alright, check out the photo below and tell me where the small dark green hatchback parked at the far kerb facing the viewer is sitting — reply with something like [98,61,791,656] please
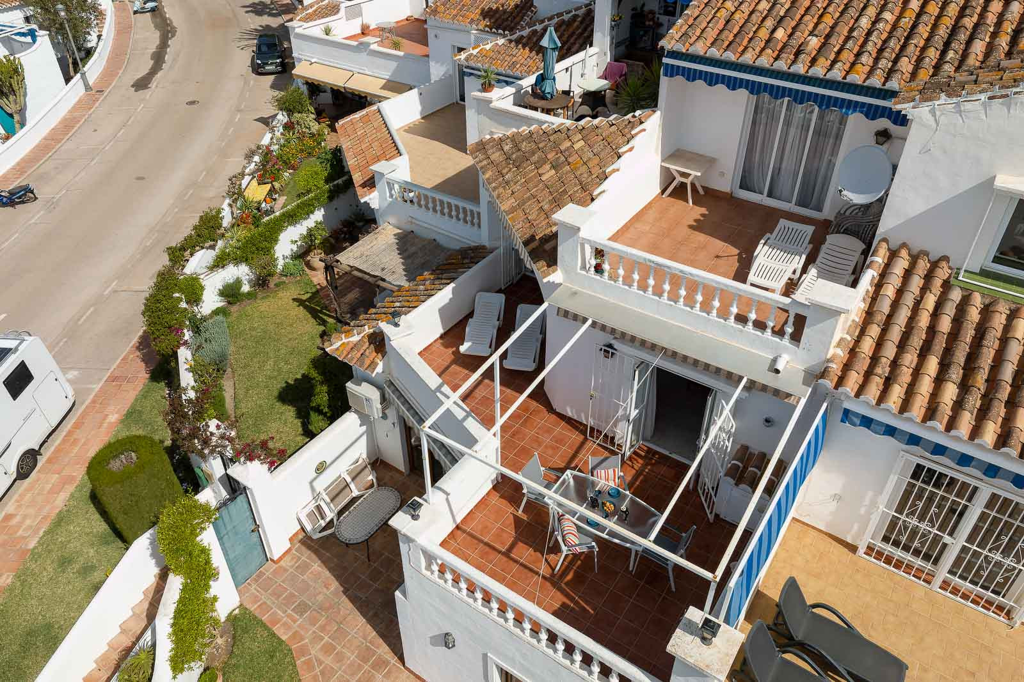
[246,22,284,69]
